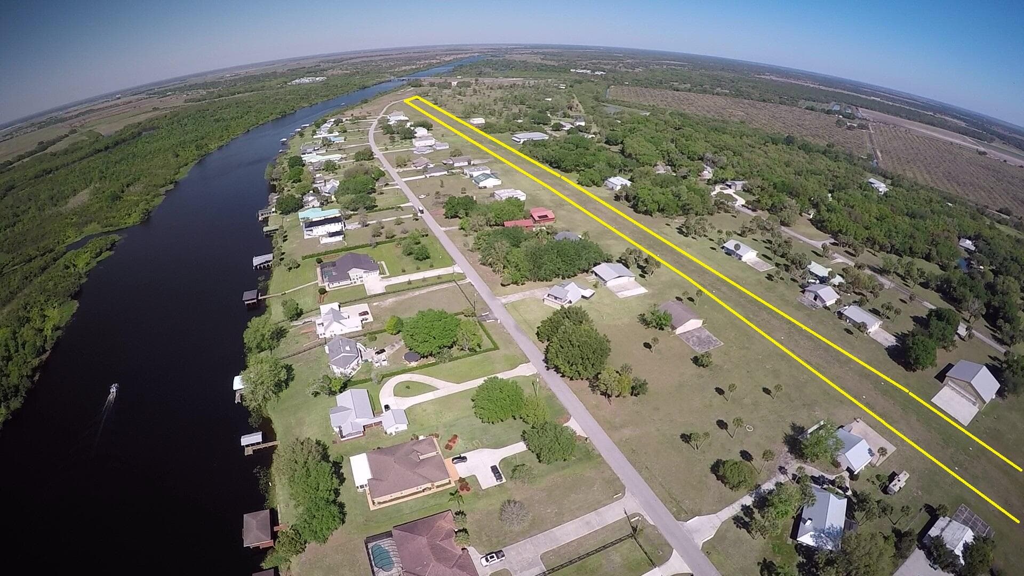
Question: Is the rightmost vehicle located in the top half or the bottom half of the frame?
bottom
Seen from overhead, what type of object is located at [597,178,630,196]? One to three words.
hangar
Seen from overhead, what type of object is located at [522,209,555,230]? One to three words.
barn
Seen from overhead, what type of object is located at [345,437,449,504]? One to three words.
house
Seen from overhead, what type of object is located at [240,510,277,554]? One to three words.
building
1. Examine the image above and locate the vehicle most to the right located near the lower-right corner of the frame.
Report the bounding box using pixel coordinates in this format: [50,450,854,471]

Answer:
[888,471,908,497]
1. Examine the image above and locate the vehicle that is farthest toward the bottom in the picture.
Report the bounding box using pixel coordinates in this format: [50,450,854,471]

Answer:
[479,550,507,565]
